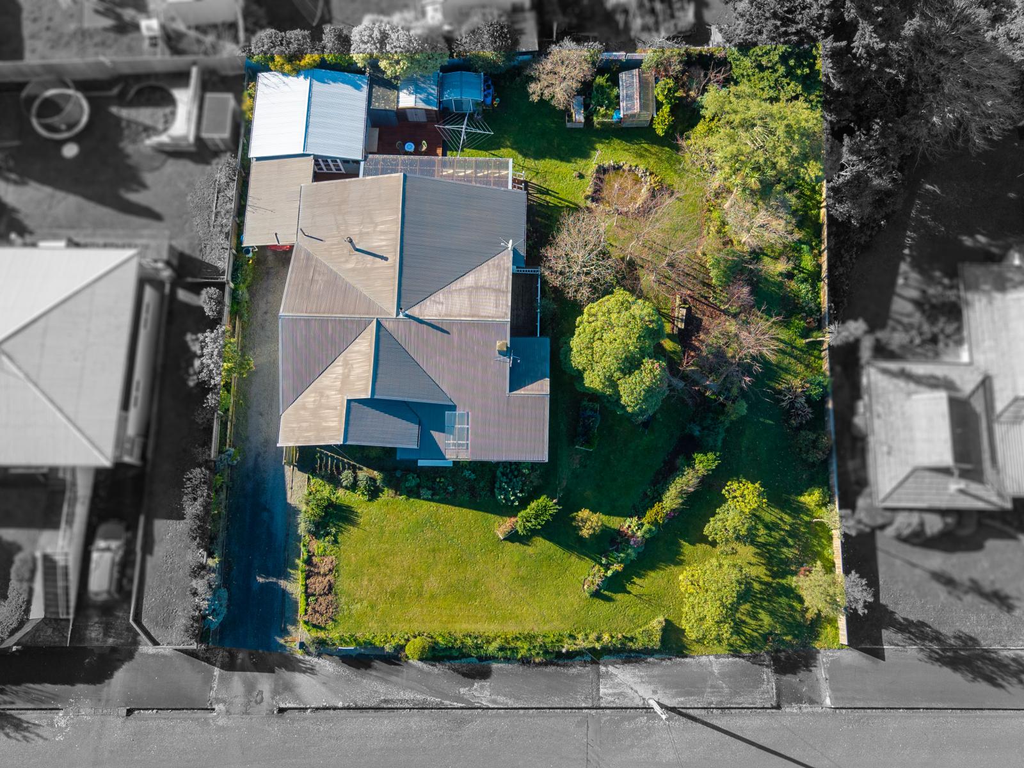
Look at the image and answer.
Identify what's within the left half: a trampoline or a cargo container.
trampoline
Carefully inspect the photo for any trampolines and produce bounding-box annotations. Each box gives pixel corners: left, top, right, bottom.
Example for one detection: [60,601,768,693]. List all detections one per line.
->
[7,71,96,144]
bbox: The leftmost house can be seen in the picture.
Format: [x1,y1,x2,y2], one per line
[0,235,171,467]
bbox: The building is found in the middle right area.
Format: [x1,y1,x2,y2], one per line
[850,252,1024,510]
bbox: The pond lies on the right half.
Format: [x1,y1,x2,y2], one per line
[584,160,655,215]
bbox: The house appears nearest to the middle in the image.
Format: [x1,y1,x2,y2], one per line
[278,172,551,465]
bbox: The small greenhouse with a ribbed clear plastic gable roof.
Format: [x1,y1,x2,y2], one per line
[616,68,654,127]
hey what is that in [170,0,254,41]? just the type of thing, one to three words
shed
